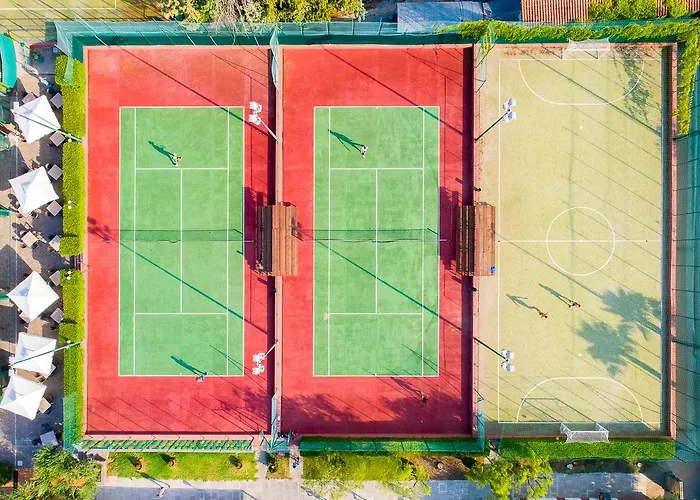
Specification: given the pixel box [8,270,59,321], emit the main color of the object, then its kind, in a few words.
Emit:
white umbrella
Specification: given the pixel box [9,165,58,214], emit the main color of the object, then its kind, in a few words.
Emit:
white umbrella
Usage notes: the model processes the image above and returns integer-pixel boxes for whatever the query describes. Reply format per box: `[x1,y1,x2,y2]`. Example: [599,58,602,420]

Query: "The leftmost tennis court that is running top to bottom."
[90,49,277,432]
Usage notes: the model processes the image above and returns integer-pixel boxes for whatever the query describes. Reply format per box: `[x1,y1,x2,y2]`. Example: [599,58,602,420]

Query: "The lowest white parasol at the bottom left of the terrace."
[0,376,46,420]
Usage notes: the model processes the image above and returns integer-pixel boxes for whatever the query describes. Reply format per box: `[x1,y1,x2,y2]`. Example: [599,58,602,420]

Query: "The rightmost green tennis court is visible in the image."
[282,49,473,432]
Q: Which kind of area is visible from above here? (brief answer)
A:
sports ground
